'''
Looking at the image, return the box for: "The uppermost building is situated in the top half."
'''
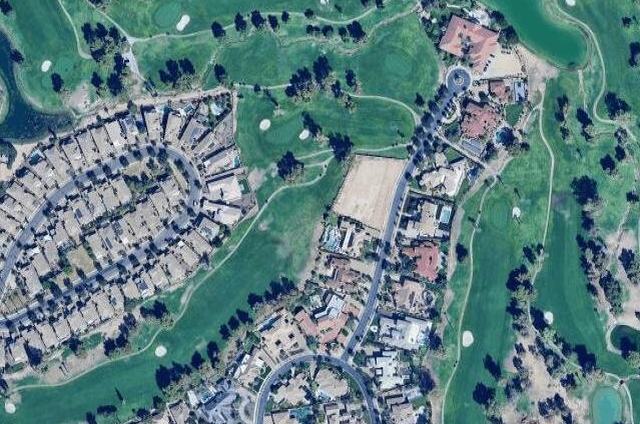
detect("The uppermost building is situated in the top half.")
[440,14,498,79]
